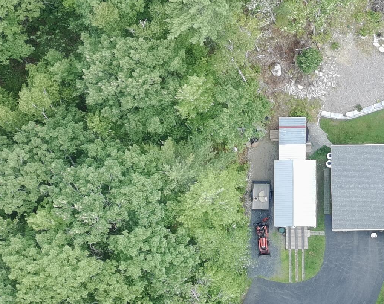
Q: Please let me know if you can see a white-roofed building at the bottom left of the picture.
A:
No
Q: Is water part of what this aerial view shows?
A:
No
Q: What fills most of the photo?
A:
trees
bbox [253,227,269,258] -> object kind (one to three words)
work vehicle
